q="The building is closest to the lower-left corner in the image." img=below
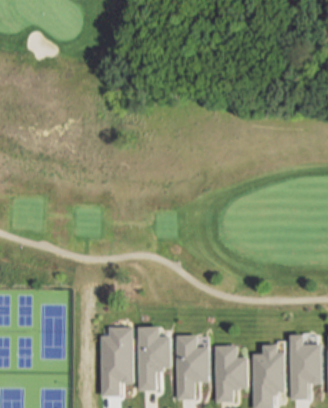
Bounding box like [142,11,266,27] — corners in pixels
[101,327,136,396]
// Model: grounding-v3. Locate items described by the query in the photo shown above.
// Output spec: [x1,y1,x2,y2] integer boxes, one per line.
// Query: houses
[215,345,250,402]
[101,327,136,396]
[176,334,212,400]
[253,344,286,408]
[138,326,173,390]
[290,334,324,398]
